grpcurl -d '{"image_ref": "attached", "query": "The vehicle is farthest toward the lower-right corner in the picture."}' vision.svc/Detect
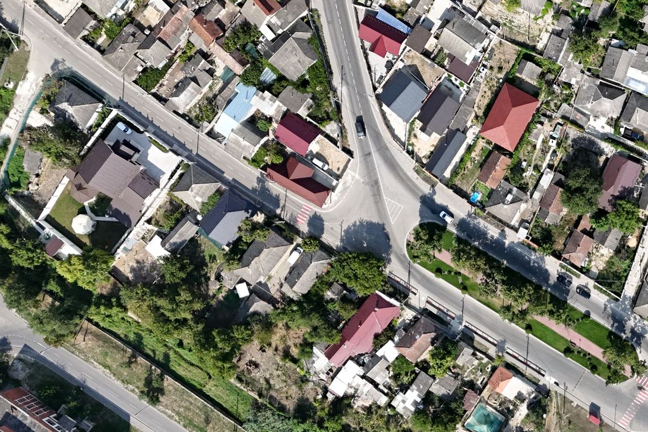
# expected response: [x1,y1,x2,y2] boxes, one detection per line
[575,283,592,298]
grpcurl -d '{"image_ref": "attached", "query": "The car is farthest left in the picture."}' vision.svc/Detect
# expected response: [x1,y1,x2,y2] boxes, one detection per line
[116,119,134,135]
